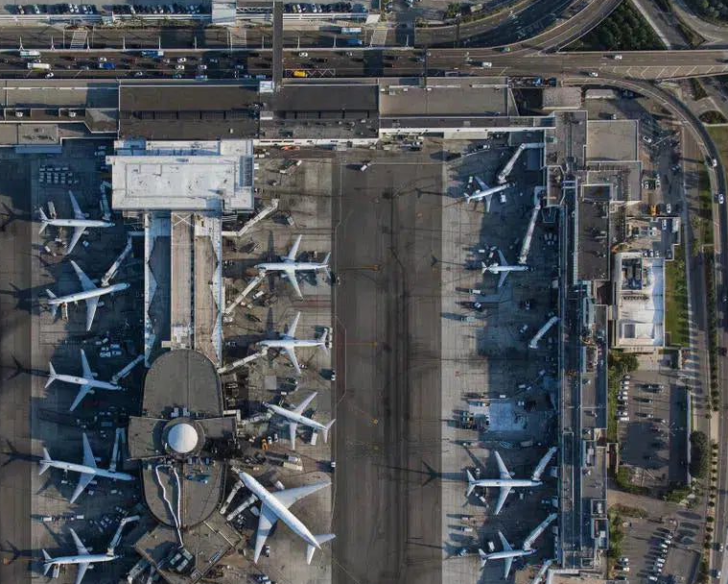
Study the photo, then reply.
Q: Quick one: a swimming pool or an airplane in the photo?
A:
airplane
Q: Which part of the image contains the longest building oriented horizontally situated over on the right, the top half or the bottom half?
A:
top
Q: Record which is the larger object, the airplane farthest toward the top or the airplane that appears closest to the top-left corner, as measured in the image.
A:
the airplane that appears closest to the top-left corner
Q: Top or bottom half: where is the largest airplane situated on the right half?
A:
bottom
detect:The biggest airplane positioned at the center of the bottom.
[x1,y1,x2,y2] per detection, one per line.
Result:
[239,473,337,565]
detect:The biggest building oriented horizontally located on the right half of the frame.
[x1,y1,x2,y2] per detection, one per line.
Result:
[380,78,544,147]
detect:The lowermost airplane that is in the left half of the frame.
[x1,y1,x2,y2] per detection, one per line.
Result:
[43,529,119,584]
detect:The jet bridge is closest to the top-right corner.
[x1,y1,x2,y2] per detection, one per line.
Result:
[494,142,542,190]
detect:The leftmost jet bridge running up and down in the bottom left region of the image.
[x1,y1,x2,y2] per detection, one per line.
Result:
[108,426,128,478]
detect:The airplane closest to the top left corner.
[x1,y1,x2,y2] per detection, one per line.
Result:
[40,191,115,254]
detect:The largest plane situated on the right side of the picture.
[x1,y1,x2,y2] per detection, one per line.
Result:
[468,451,543,515]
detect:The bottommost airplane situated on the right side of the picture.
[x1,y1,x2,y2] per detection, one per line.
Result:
[480,529,536,581]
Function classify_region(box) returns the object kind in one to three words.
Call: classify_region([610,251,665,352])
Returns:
building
